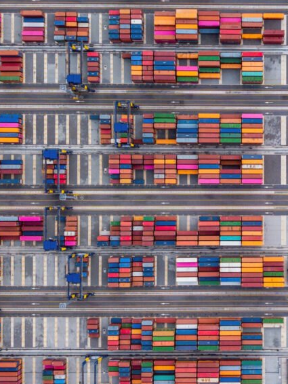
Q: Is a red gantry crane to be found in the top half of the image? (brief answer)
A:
No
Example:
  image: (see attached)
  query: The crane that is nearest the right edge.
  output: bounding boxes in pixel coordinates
[113,101,141,147]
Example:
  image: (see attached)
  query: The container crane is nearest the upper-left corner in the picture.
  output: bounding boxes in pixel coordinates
[68,41,97,91]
